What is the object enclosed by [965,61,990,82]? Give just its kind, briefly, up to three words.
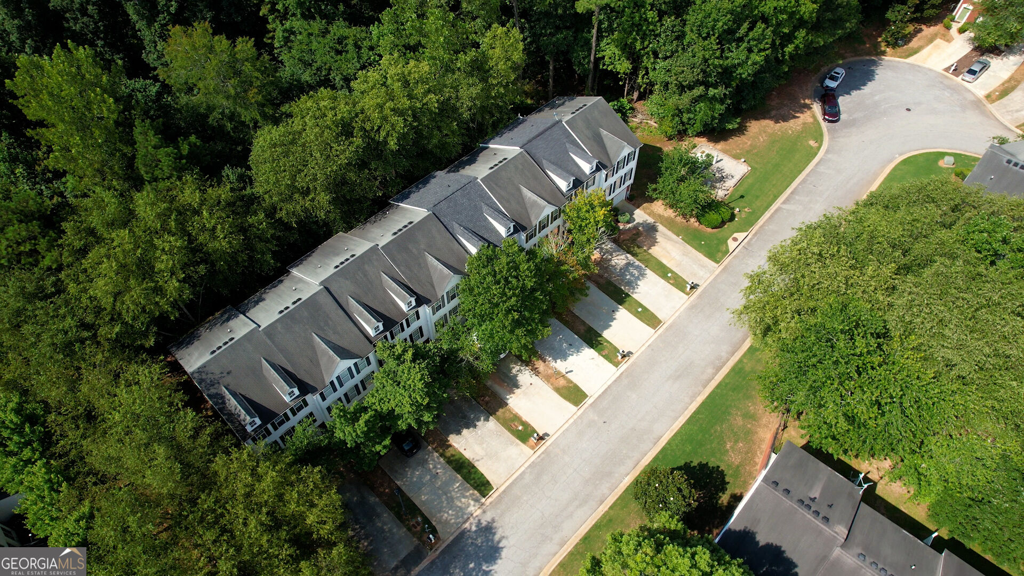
car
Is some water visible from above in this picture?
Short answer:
No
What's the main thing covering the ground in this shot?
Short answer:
trees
